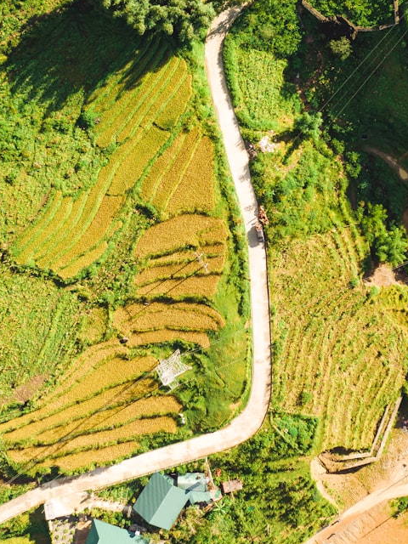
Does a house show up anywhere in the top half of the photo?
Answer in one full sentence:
No, no house appears in the top half of the photo.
